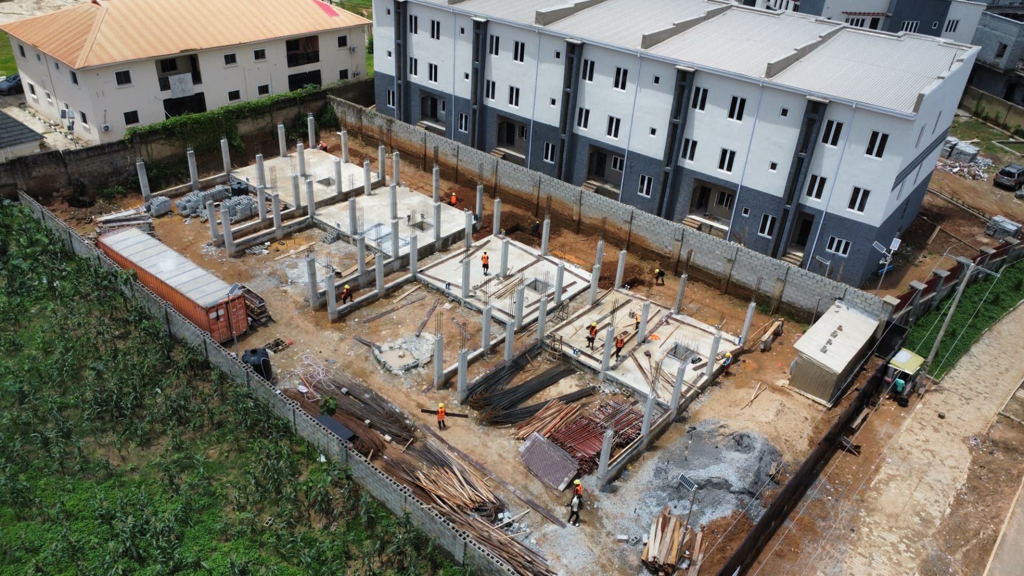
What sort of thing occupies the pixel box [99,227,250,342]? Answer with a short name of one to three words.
shipping container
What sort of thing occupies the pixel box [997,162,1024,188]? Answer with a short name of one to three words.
car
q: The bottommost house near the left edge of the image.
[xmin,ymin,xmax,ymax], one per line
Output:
[0,101,45,169]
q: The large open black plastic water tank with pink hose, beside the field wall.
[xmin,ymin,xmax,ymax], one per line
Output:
[240,343,280,383]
